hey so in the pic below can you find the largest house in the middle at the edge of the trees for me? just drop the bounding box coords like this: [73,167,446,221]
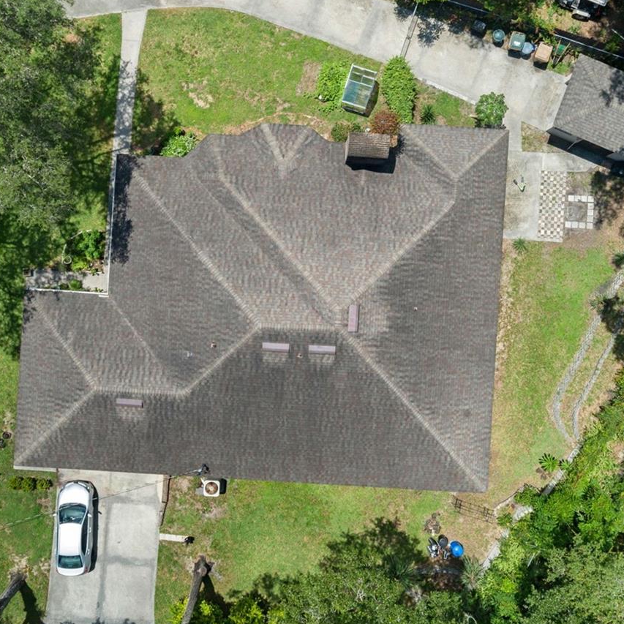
[14,122,509,494]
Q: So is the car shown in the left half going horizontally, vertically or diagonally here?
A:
vertically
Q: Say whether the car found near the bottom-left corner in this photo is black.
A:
No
